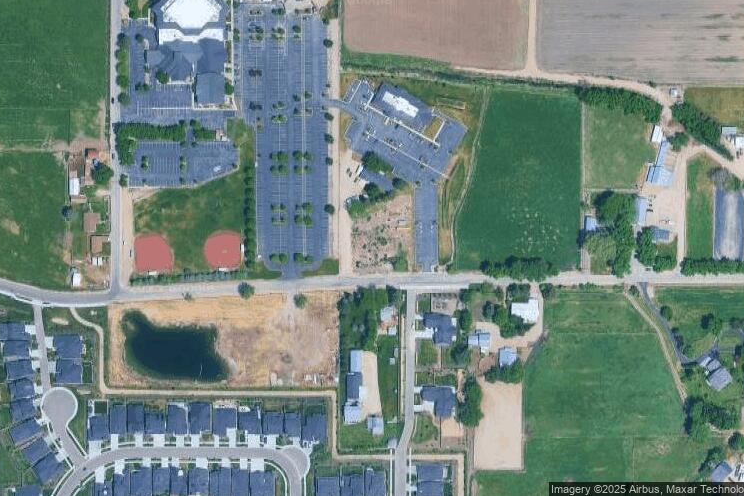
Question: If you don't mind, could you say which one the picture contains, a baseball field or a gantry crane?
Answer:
baseball field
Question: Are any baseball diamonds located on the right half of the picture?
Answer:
No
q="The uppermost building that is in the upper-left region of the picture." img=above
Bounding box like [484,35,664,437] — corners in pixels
[145,0,228,103]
